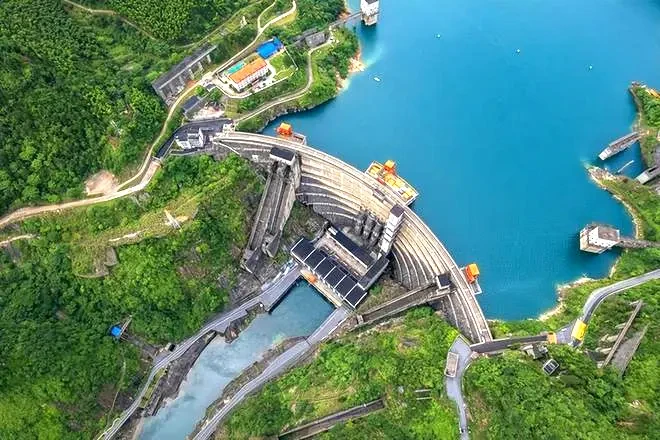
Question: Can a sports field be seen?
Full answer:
No, I find no sports field anywhere in the image.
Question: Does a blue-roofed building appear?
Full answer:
Yes, there's a blue-roofed building down there.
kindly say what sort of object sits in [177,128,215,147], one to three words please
building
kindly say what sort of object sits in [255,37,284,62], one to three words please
building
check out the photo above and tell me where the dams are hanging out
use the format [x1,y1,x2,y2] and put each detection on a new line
[213,130,492,341]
